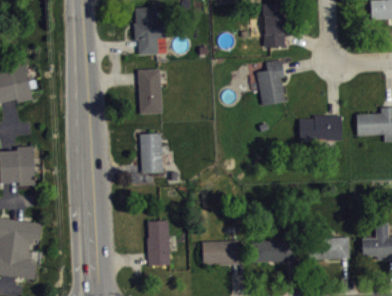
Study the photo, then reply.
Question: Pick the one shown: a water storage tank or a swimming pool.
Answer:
swimming pool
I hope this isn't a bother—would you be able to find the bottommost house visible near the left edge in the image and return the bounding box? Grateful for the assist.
[0,216,42,280]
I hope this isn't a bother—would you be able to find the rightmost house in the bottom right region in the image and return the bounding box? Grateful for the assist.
[362,222,392,261]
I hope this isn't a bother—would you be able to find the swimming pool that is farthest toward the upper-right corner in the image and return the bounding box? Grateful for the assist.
[216,32,234,50]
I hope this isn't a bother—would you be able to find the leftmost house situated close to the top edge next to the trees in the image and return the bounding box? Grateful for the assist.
[134,8,166,54]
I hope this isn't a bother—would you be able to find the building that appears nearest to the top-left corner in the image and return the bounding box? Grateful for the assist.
[0,64,34,106]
